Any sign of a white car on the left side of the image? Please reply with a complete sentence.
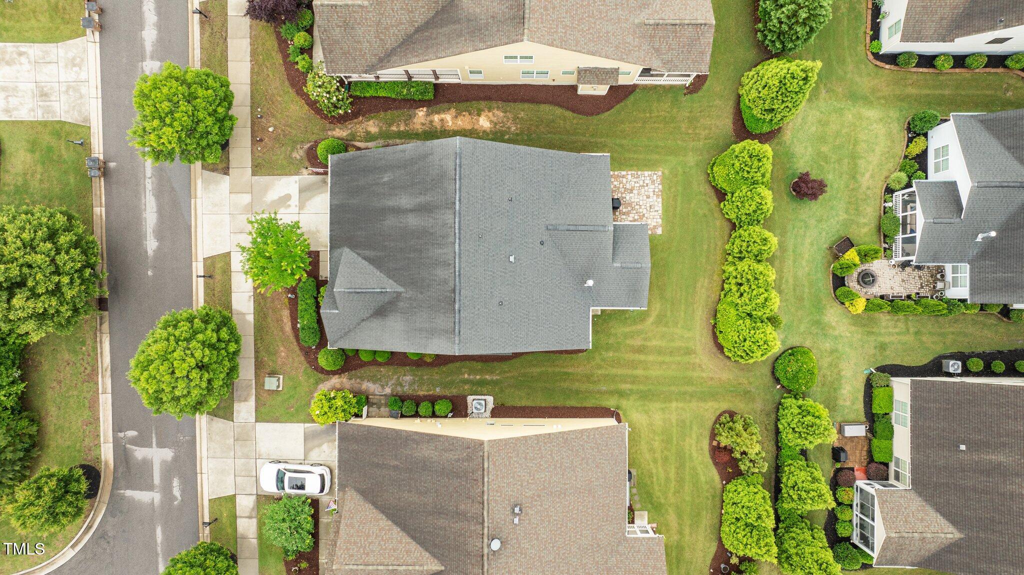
Yes, a white car can be seen on the left side of the image.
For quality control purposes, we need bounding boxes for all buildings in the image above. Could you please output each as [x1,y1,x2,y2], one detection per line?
[325,410,666,575]
[320,137,650,355]
[894,109,1024,308]
[856,377,1024,575]
[880,0,1024,54]
[313,0,715,95]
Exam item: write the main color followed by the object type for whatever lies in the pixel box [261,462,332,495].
white car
